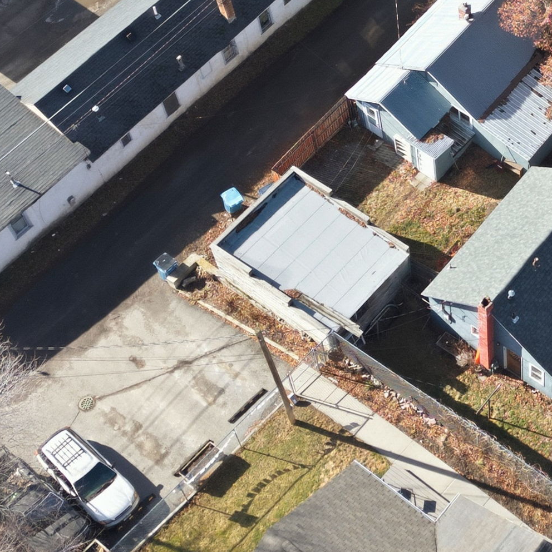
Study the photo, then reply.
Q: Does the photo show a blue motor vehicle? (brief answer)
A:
No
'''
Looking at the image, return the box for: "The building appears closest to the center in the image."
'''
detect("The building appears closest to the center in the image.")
[207,161,414,359]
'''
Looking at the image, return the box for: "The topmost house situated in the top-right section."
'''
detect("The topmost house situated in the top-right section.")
[344,0,552,179]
